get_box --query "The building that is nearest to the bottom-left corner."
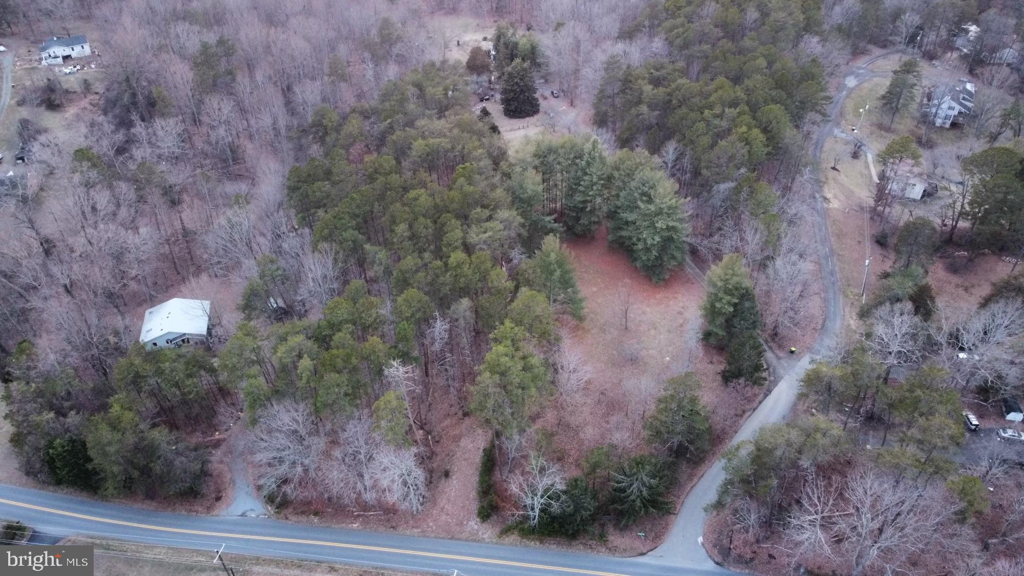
[138,295,214,360]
